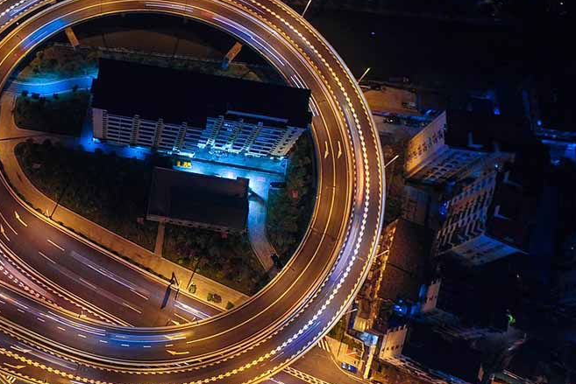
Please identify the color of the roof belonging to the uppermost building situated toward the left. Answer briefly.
black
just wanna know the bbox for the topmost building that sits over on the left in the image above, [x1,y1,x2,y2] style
[91,55,315,160]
